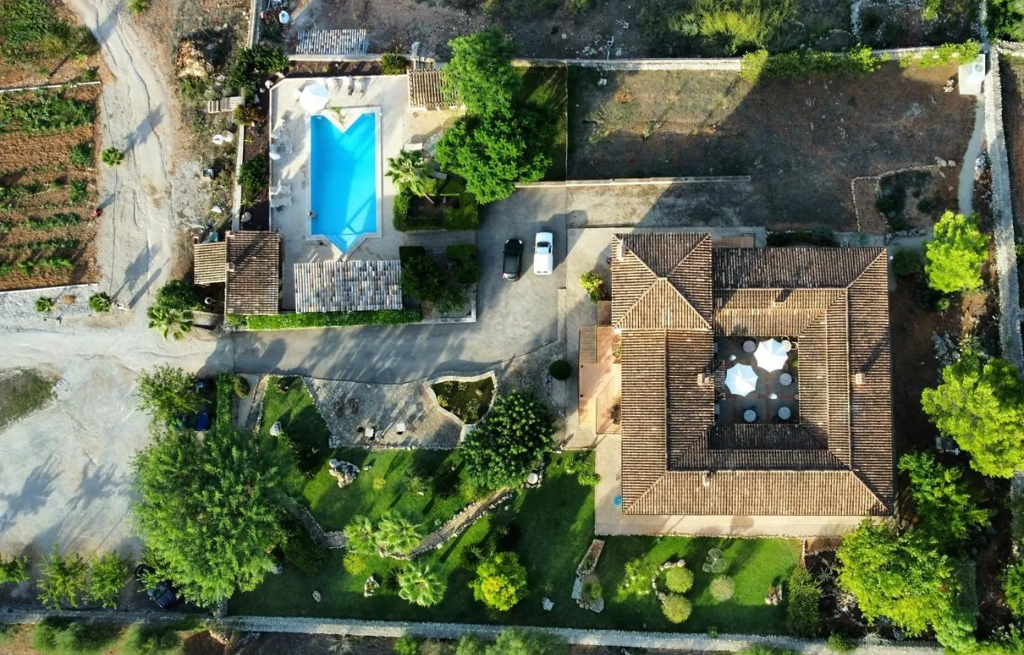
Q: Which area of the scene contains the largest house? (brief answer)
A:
right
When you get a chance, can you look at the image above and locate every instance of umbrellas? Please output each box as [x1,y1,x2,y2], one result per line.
[727,364,755,395]
[300,84,331,114]
[753,338,786,372]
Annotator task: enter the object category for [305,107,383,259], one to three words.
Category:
swimming pool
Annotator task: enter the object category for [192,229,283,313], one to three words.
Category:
shed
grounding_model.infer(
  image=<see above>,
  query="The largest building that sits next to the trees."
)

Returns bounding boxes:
[610,231,897,517]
